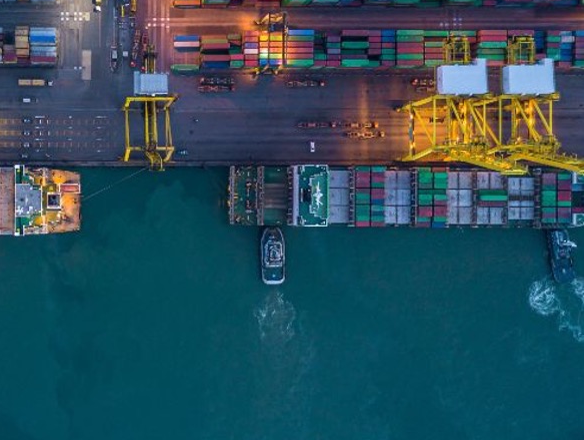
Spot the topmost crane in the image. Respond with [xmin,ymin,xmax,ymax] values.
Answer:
[252,12,284,76]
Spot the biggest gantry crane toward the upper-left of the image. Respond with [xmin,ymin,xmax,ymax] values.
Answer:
[116,35,179,167]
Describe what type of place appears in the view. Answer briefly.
port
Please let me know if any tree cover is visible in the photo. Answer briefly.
No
